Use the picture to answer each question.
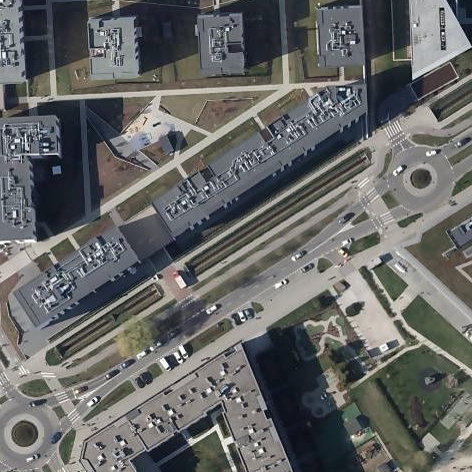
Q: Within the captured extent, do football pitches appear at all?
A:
No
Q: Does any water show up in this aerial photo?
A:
No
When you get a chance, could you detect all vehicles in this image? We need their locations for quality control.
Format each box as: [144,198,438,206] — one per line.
[340,248,350,258]
[427,149,437,155]
[276,279,288,288]
[160,358,170,371]
[458,136,470,145]
[174,271,186,286]
[28,454,38,461]
[141,373,151,385]
[243,307,253,319]
[88,397,98,406]
[341,238,351,246]
[178,344,188,357]
[52,433,61,443]
[107,370,119,379]
[122,360,134,369]
[394,164,405,175]
[138,350,148,358]
[293,251,305,260]
[135,377,144,389]
[206,305,218,314]
[237,311,245,322]
[232,315,239,325]
[76,386,87,393]
[300,262,312,272]
[150,342,160,350]
[342,213,353,223]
